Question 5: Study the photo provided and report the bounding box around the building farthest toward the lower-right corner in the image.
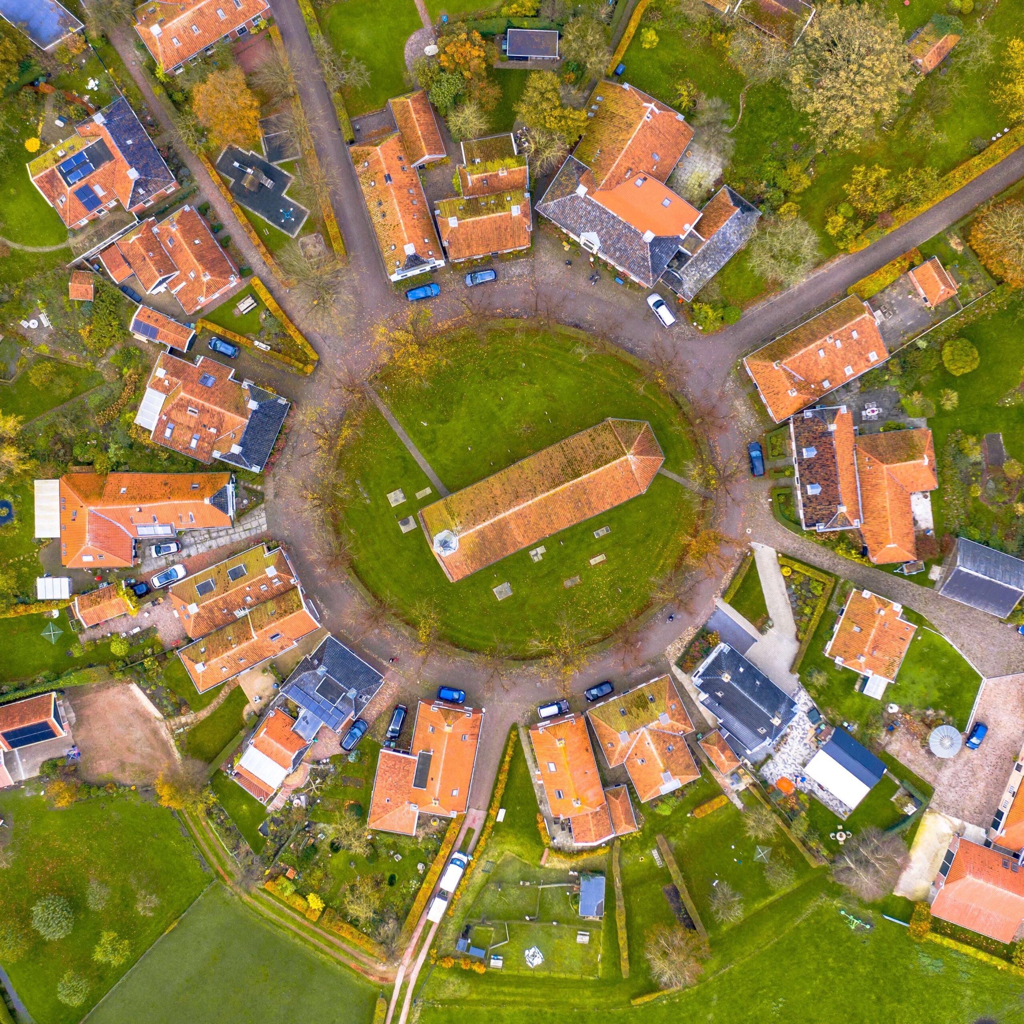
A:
[925,832,1024,945]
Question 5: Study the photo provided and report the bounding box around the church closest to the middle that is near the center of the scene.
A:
[415,418,665,584]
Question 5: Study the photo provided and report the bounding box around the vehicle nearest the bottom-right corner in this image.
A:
[965,720,987,751]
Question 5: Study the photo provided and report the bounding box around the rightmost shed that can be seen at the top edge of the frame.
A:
[901,22,962,76]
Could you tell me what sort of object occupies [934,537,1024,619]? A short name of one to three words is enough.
barn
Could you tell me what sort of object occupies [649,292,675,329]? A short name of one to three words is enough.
car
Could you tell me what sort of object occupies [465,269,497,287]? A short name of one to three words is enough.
car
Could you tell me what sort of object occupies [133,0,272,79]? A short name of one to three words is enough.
house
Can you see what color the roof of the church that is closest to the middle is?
orange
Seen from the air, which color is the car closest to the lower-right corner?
blue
